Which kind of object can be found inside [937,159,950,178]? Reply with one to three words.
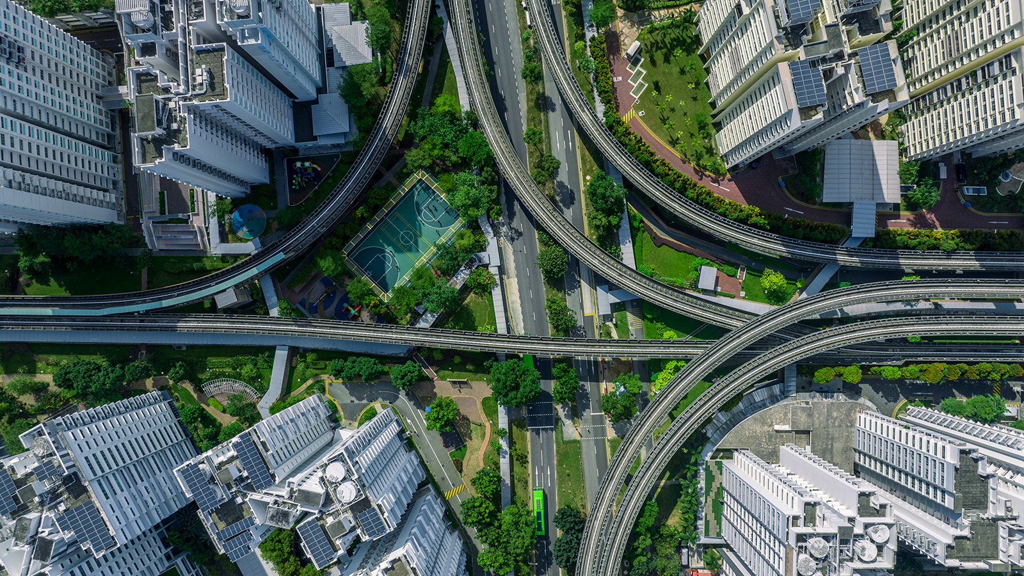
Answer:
vehicle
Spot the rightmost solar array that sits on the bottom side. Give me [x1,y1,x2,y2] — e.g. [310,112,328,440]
[357,507,386,537]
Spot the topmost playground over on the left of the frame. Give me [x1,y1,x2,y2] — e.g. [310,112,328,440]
[286,153,341,206]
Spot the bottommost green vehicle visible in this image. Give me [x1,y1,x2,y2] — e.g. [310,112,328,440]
[532,484,545,535]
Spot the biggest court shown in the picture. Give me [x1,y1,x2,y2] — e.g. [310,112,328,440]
[343,170,465,296]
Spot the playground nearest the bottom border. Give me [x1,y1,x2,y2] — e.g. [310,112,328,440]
[299,277,386,323]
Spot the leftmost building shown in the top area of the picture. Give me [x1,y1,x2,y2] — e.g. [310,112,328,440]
[0,0,125,240]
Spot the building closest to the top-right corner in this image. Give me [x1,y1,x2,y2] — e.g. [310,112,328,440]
[893,0,1024,161]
